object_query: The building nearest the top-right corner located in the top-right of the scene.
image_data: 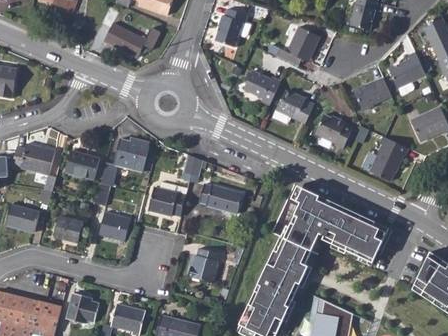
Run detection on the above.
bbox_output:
[422,20,448,82]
